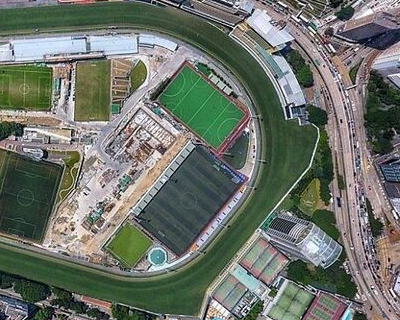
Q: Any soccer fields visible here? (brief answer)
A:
Yes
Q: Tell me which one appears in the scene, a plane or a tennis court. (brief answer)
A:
tennis court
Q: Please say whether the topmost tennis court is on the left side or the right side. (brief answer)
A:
right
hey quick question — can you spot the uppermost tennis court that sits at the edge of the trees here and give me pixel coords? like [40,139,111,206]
[240,238,292,286]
